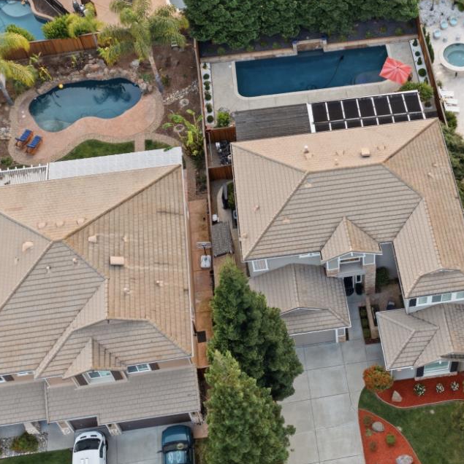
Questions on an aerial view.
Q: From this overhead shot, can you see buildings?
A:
Yes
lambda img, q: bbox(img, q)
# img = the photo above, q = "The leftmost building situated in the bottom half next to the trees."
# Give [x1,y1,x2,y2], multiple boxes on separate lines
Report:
[0,165,201,433]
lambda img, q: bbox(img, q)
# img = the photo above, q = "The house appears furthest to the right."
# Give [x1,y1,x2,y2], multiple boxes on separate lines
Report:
[231,118,464,384]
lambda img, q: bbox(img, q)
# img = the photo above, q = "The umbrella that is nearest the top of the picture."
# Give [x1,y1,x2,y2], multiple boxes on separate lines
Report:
[376,52,419,90]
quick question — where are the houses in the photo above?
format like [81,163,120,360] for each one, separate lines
[0,165,201,433]
[231,118,464,384]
